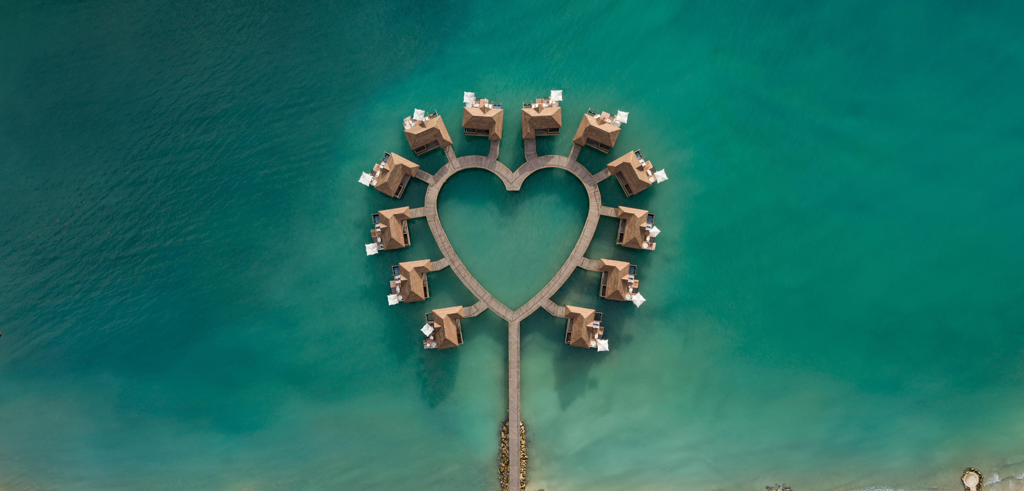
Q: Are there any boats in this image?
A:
No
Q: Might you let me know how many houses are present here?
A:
12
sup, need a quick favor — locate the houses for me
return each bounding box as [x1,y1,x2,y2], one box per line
[390,259,432,303]
[521,96,562,140]
[424,305,465,350]
[462,97,503,141]
[616,205,656,252]
[598,258,639,302]
[605,149,657,197]
[369,151,420,199]
[572,107,623,154]
[370,206,411,252]
[563,304,604,349]
[401,109,453,156]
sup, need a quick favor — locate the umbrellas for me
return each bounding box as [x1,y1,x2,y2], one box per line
[631,293,646,308]
[359,172,373,186]
[366,243,378,256]
[597,340,609,352]
[413,109,425,121]
[463,92,474,103]
[387,295,398,306]
[551,90,562,101]
[654,169,668,183]
[616,110,628,123]
[421,324,433,337]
